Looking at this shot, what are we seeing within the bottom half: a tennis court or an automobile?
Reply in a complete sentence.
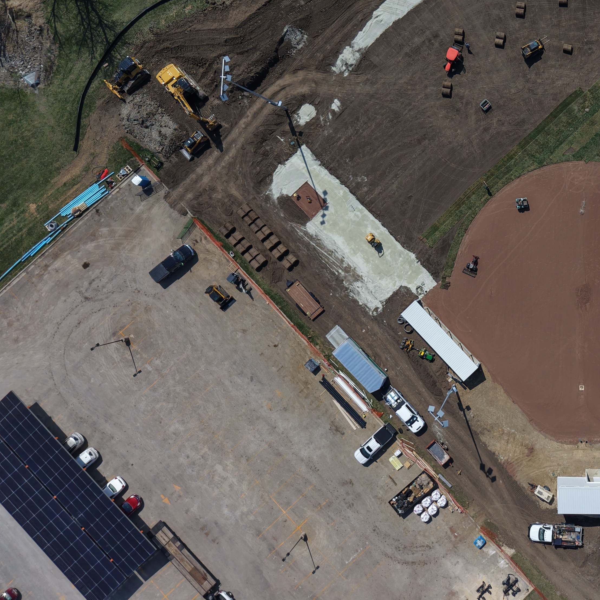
You can see an automobile within the bottom half.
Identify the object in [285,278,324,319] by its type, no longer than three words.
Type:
trailer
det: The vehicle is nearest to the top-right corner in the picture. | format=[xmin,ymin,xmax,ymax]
[519,37,551,60]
